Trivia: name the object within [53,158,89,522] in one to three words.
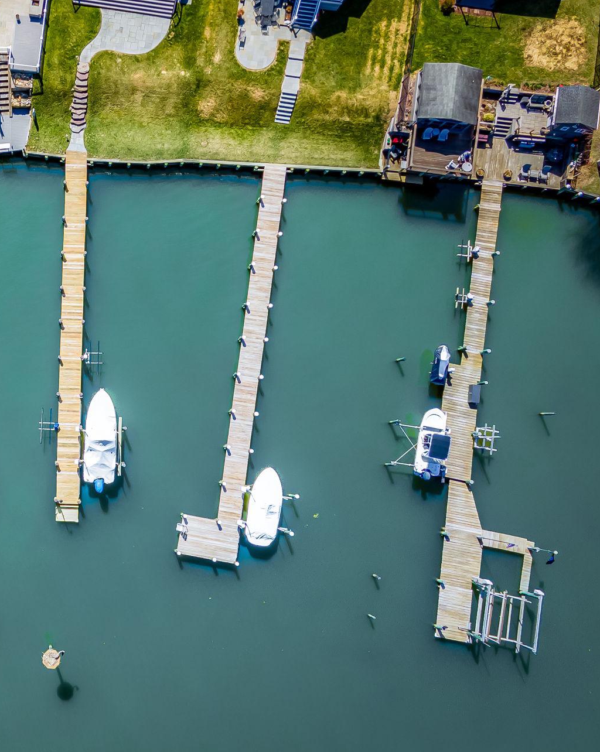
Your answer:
pier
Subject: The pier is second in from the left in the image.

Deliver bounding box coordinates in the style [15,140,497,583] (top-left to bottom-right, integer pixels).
[172,168,287,566]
